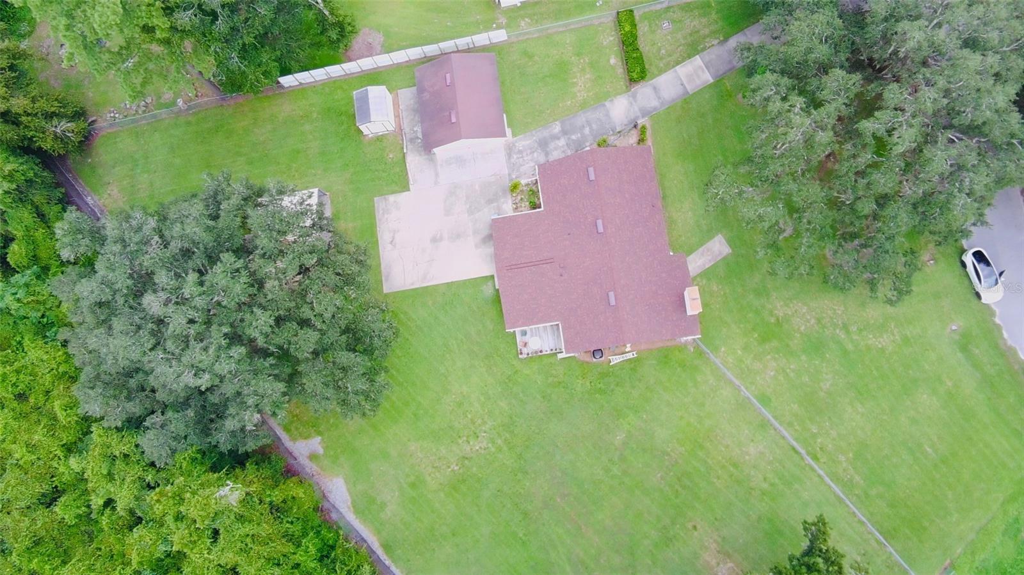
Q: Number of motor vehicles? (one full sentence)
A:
The picture shows just 1 motor vehicle.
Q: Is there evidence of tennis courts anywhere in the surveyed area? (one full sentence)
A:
No, no tennis court is visible in the view.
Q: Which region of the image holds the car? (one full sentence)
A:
You can find the car in the right area of the picture.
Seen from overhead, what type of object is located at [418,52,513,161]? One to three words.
building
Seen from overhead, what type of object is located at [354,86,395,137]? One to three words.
shed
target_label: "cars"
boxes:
[960,251,1008,306]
